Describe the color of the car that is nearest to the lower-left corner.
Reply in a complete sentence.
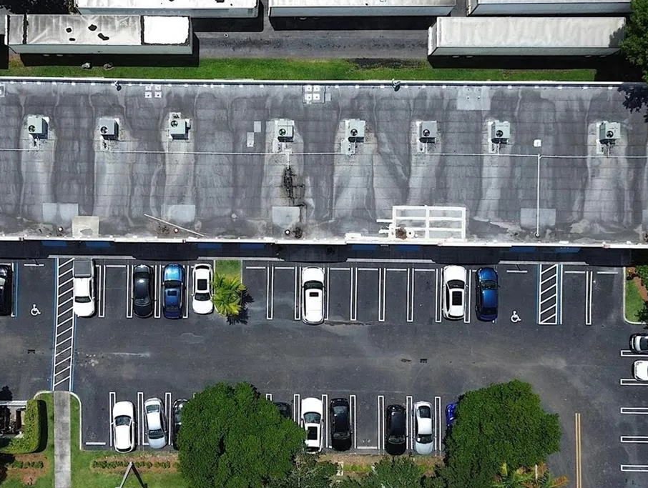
The color of the car that is nearest to the lower-left corner is white.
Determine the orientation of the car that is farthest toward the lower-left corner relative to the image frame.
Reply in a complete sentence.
I'd say the car that is farthest toward the lower-left corner is aligned from top to bottom in the picture.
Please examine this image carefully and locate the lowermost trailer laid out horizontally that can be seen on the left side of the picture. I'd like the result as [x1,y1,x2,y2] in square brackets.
[6,13,192,56]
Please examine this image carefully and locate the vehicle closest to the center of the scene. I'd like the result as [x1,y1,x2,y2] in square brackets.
[301,267,326,325]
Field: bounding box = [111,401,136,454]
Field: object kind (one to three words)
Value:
car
